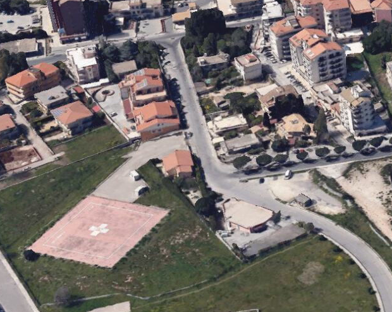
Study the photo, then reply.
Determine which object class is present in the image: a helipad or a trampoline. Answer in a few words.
helipad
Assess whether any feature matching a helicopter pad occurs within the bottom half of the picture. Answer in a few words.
Yes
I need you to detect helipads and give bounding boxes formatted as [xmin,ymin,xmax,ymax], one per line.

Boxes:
[30,199,169,268]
